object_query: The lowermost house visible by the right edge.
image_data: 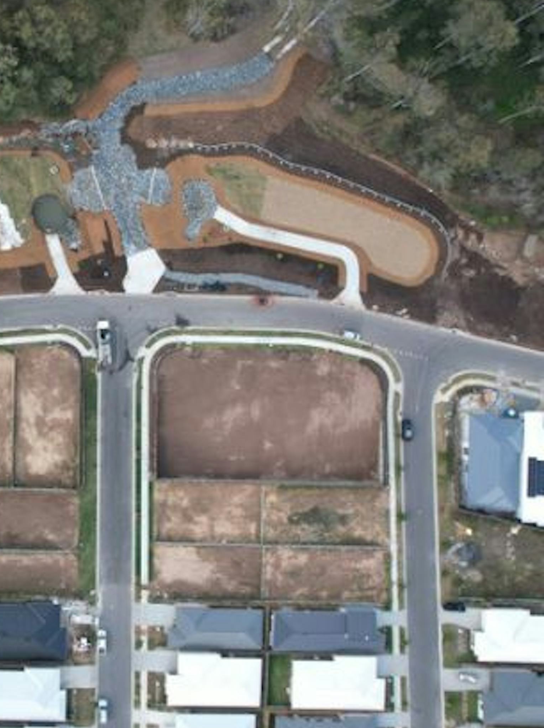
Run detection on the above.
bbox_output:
[476,669,544,727]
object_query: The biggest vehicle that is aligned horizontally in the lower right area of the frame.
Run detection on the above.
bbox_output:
[444,602,471,615]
